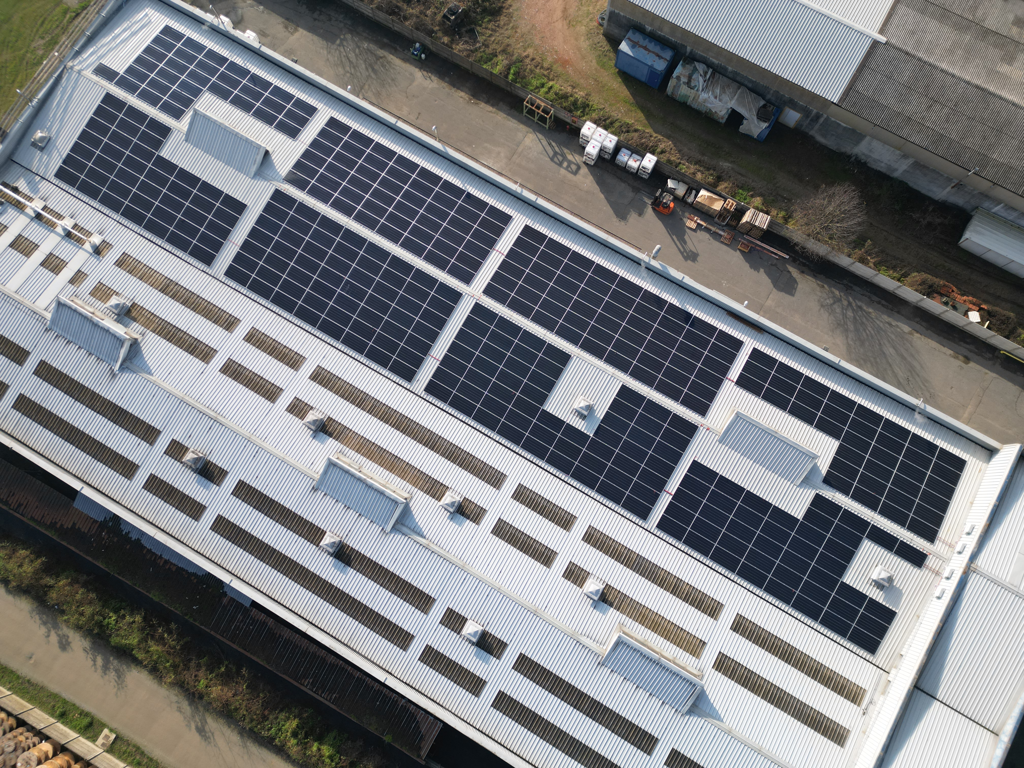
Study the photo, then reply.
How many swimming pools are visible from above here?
0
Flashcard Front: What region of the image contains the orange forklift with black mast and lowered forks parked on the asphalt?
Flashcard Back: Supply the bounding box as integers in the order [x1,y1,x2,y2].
[636,188,676,216]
